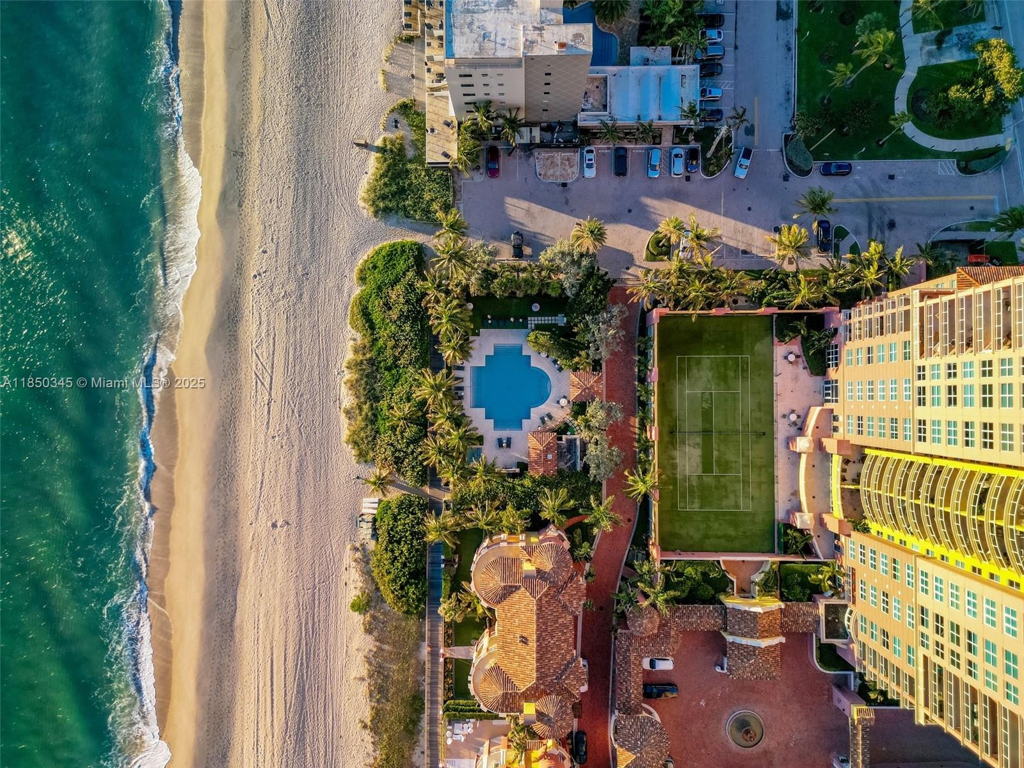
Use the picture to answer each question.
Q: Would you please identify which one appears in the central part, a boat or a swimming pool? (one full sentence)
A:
There is a swimming pool in the central part.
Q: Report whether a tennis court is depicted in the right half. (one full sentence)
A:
Yes, you'll find a tennis court in the right half.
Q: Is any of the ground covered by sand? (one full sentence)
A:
Yes, some sand is visible.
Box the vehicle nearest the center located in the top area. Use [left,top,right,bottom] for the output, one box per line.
[510,228,524,260]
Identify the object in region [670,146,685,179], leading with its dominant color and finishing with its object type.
blue car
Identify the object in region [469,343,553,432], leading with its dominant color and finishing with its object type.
blue swimming pool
